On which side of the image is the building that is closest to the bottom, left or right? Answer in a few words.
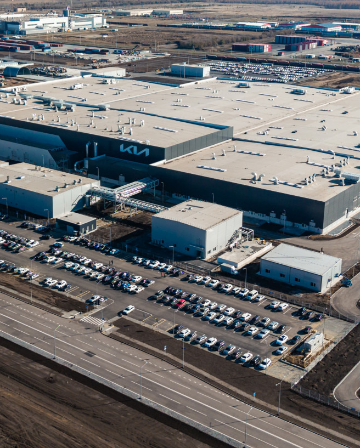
right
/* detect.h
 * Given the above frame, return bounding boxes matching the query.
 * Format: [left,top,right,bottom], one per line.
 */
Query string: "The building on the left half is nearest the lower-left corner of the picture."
[56,213,98,236]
